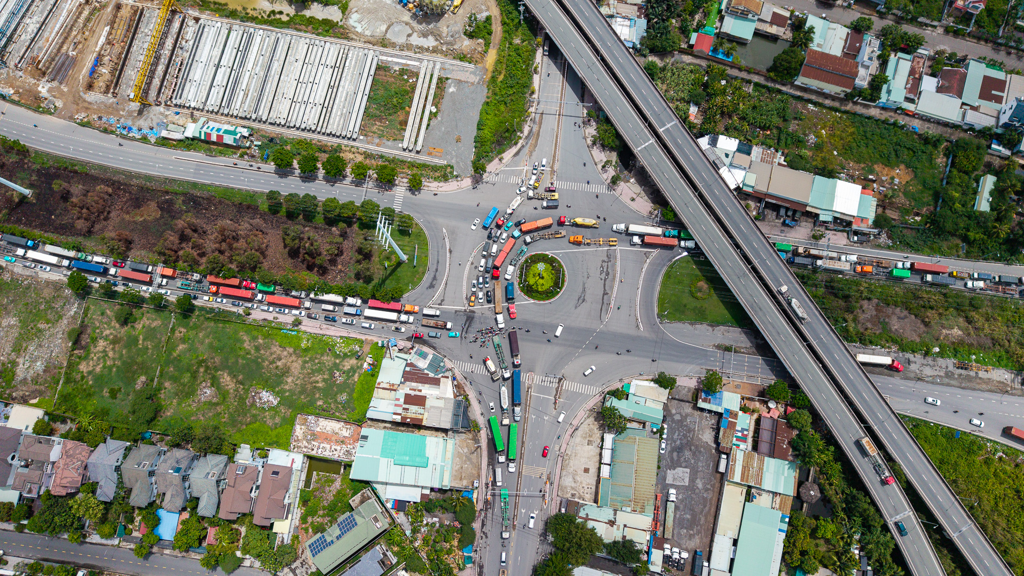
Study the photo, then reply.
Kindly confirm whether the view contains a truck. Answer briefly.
Yes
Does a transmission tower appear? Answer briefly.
Yes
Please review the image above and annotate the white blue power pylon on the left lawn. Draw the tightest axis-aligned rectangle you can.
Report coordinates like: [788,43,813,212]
[378,214,411,266]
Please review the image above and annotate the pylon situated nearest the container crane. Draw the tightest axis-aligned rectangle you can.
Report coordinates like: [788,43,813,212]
[0,177,36,199]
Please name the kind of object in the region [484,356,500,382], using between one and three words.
vehicle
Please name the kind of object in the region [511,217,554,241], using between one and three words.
truck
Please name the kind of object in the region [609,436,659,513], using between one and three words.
building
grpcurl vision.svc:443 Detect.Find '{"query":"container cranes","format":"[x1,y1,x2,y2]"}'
[129,0,191,112]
